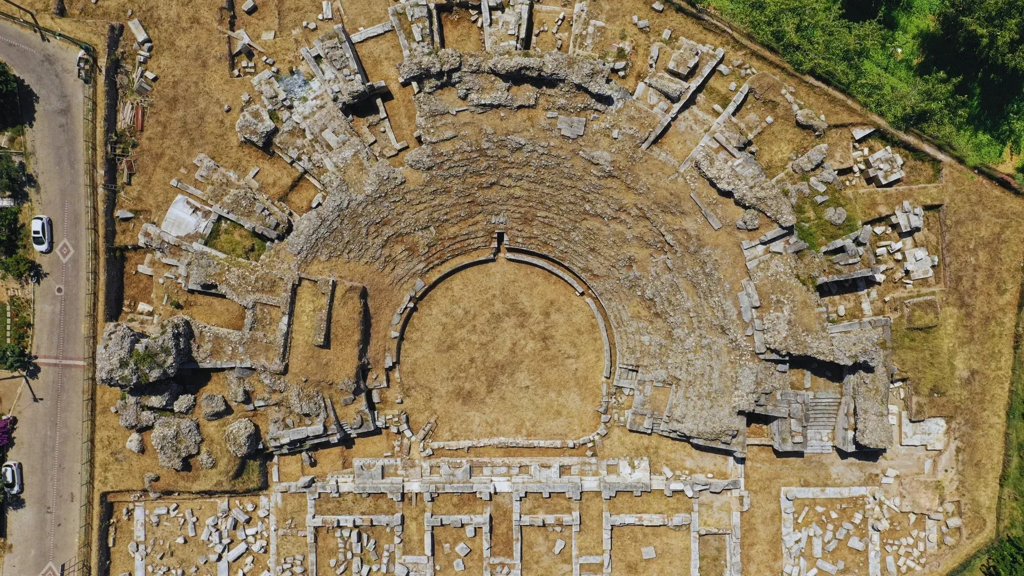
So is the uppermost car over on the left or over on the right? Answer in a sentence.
The uppermost car appears in the left half of the scene.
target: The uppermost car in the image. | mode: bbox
[27,215,51,254]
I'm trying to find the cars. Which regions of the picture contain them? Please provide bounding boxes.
[27,215,51,254]
[0,460,22,496]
